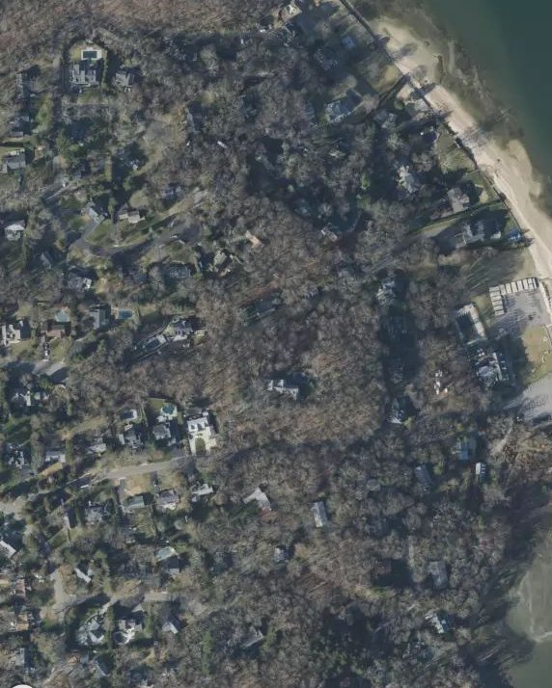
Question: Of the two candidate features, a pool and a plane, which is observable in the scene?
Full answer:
There is a pool in the scene.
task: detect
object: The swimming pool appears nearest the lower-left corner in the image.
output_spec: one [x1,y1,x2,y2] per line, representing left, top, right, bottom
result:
[118,407,135,421]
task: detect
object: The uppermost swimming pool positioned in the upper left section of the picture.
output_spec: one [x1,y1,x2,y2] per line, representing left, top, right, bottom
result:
[80,49,98,61]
